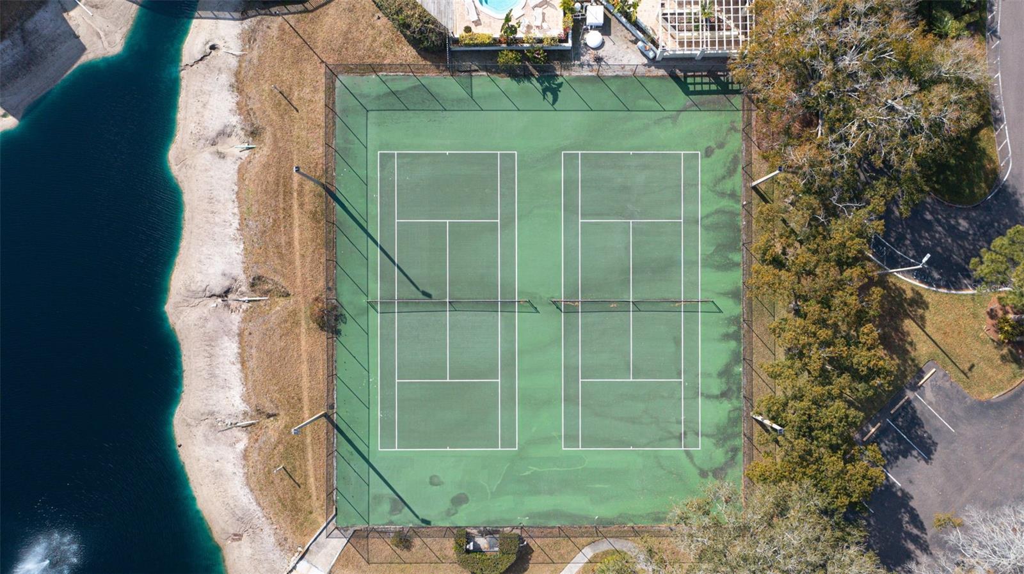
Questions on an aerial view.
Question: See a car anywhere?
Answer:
No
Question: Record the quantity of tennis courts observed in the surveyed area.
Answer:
two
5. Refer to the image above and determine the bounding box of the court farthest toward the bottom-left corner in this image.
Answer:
[379,151,517,450]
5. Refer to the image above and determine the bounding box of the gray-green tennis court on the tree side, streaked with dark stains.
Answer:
[561,150,702,451]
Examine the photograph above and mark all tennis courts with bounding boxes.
[561,150,702,451]
[379,151,517,450]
